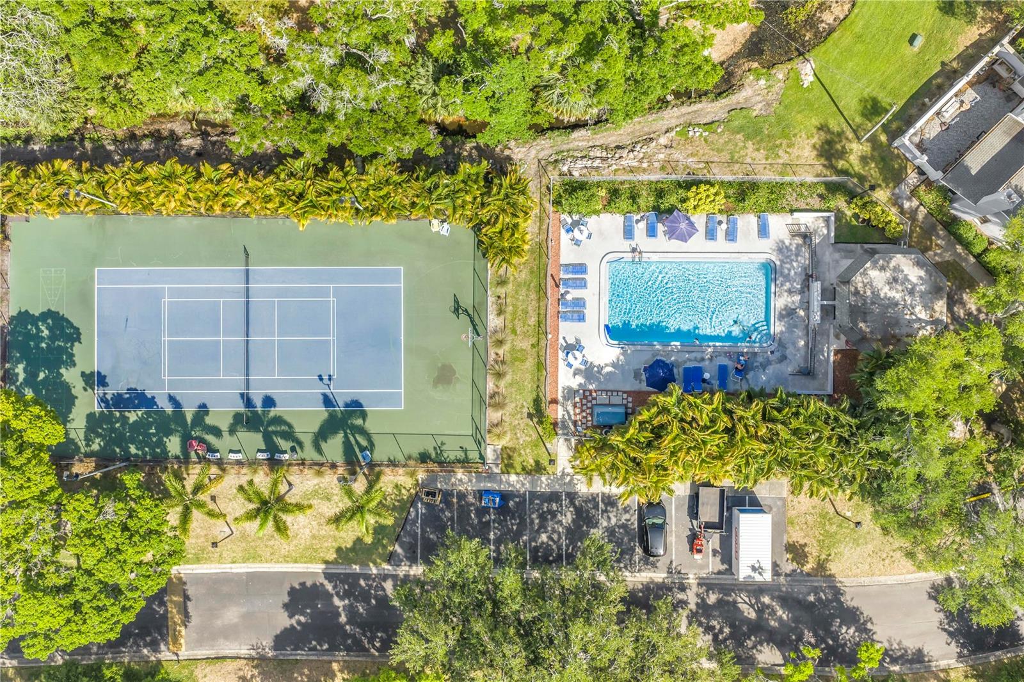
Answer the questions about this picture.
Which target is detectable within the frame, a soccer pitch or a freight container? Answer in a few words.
freight container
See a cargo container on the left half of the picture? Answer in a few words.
No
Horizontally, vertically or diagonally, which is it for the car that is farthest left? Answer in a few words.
vertically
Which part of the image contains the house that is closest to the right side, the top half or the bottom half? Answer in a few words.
top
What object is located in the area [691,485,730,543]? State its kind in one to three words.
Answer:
trailer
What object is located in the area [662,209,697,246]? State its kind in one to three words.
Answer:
umbrella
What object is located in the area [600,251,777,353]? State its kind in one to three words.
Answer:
swimming pool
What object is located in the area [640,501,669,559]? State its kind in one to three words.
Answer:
car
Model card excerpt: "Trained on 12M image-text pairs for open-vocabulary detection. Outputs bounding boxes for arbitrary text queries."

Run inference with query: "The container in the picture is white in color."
[731,508,772,581]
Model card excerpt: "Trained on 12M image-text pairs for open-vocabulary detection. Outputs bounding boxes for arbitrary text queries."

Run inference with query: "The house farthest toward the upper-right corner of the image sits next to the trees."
[925,101,1024,258]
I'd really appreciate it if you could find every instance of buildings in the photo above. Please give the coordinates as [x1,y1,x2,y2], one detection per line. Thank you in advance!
[833,245,950,361]
[925,101,1024,258]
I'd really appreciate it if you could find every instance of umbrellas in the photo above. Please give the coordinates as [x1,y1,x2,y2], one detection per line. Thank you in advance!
[662,209,697,246]
[640,357,677,392]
